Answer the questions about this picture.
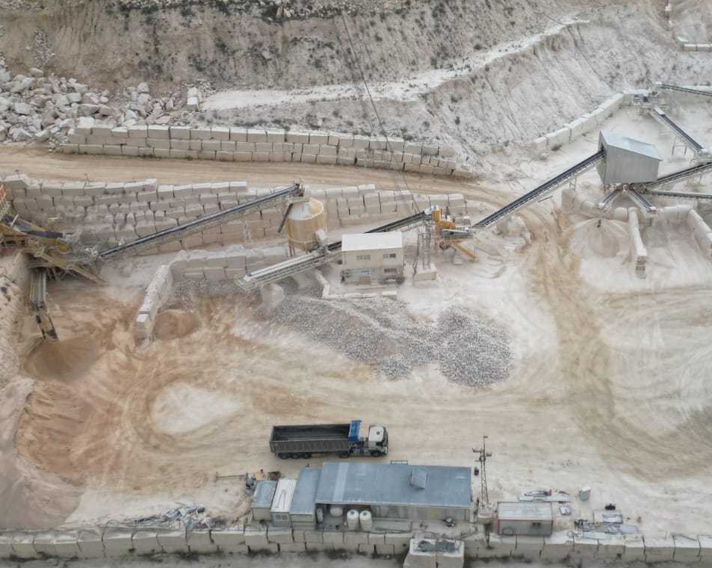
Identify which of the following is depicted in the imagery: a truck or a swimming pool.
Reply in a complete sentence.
The one in the frame is a truck.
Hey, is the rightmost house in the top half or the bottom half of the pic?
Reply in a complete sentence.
The rightmost house sits in the top half of the picture.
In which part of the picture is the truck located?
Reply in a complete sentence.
The truck is located in the bottom region of the scene.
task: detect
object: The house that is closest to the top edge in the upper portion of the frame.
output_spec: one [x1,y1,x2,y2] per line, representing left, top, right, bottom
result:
[589,129,662,203]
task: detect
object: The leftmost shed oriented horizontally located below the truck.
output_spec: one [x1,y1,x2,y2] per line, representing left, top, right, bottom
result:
[314,460,470,523]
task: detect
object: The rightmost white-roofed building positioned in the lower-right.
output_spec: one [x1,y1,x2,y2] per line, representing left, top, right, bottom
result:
[496,498,554,535]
